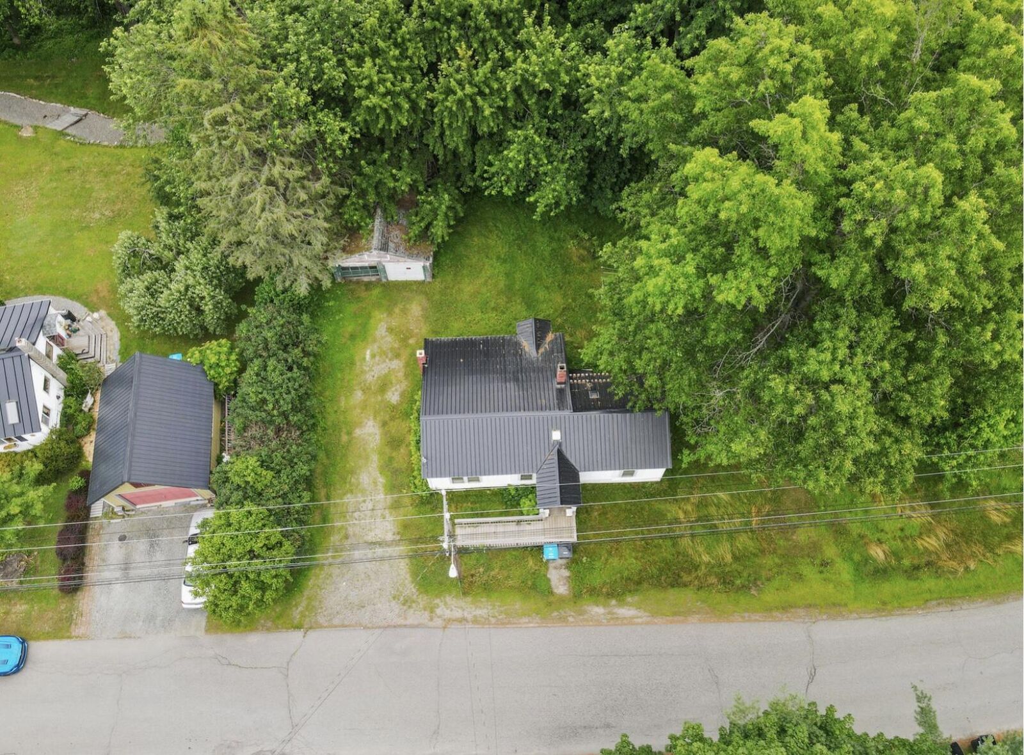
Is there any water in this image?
No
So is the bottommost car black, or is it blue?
blue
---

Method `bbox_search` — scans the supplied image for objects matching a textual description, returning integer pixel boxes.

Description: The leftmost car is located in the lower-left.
[0,633,33,678]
